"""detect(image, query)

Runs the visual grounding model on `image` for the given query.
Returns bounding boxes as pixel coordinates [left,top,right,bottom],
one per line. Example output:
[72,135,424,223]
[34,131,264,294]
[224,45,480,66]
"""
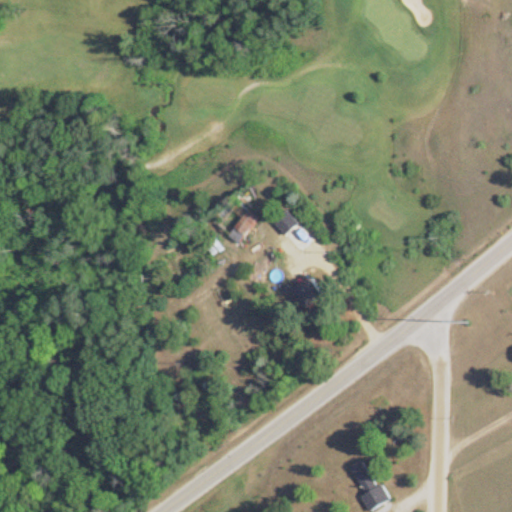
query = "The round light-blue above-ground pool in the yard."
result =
[269,267,285,283]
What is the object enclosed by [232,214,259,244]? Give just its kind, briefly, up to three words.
house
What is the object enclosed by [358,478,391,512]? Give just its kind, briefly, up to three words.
house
